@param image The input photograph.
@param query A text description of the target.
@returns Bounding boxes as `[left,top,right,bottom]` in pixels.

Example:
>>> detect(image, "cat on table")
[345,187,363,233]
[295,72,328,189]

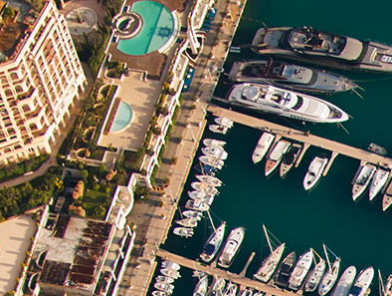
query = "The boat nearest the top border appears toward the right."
[250,30,392,73]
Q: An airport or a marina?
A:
marina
